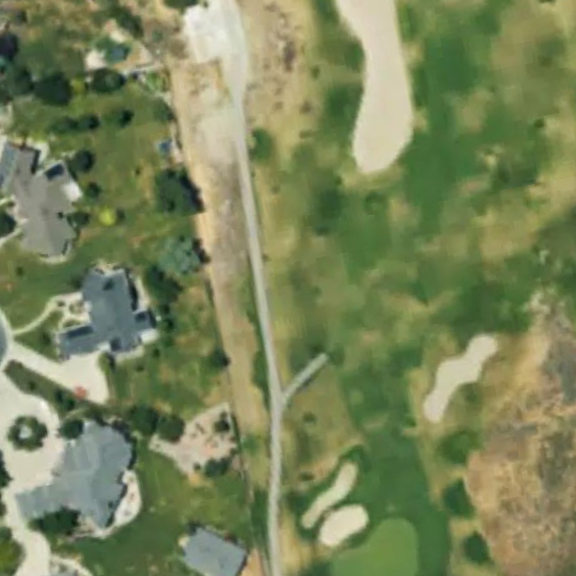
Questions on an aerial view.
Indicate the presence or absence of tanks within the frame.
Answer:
No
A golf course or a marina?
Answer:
golf course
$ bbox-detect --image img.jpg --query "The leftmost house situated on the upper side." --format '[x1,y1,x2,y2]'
[0,142,75,254]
